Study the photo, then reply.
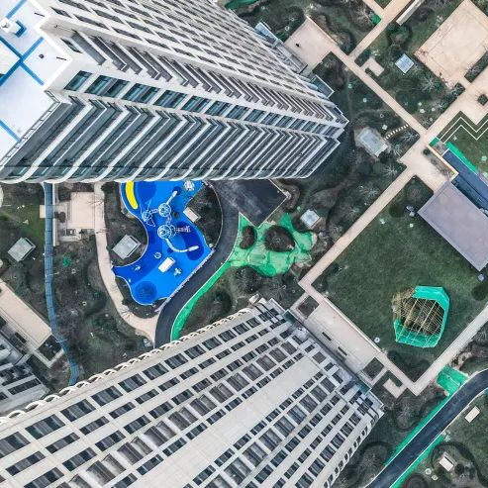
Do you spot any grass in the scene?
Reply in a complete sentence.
Yes, grass shows up in the scene.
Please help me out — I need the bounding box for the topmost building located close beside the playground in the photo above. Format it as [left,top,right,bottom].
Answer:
[0,0,345,175]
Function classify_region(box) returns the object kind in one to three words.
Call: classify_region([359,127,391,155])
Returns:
shed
